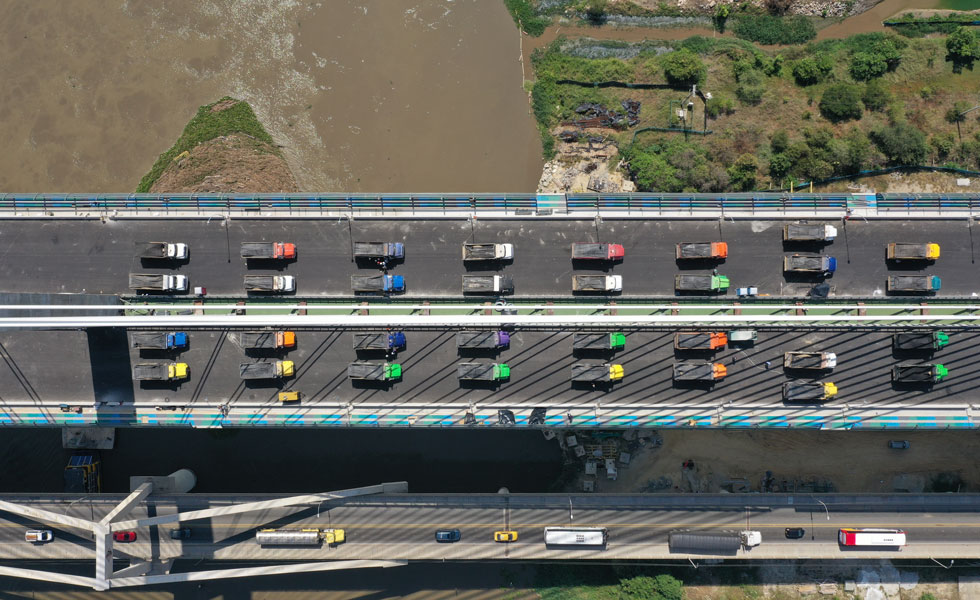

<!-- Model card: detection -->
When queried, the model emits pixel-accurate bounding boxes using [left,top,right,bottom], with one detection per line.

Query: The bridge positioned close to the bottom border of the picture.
[0,467,980,589]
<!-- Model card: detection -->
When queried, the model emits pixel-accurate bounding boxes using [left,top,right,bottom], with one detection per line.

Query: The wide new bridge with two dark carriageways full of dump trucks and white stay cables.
[0,192,980,432]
